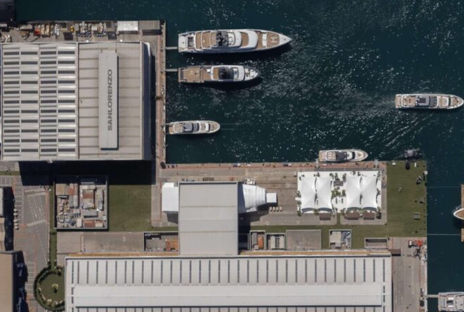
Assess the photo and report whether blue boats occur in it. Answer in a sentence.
No, the photo shows no blue boat.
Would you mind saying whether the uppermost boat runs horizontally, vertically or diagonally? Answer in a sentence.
The uppermost boat runs horizontally in the image.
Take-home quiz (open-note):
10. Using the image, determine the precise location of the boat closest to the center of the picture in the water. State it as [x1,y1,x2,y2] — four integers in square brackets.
[170,120,220,133]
